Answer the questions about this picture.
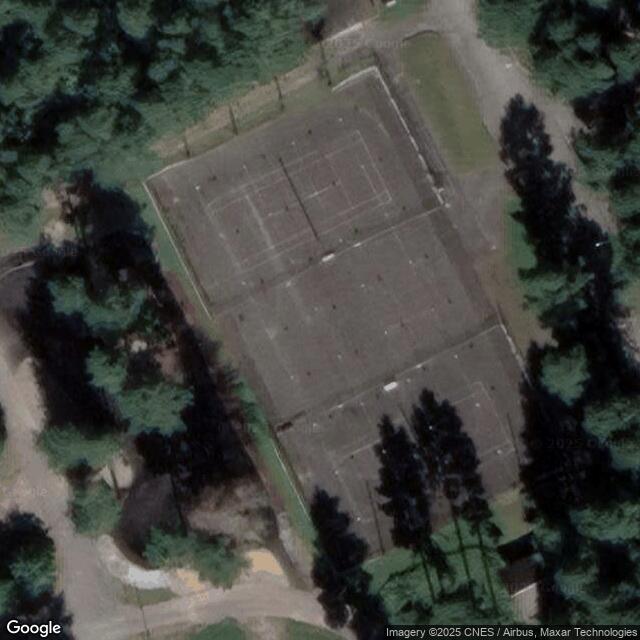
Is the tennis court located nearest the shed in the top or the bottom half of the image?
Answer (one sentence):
The tennis court located nearest the shed sits in the bottom half of the picture.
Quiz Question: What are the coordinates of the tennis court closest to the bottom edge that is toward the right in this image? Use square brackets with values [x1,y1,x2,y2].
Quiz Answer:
[278,328,529,561]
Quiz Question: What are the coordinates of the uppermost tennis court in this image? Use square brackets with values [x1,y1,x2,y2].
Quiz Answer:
[146,70,442,317]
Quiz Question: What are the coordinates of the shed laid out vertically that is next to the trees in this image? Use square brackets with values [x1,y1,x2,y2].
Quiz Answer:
[499,563,536,639]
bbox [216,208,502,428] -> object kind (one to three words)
sports court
